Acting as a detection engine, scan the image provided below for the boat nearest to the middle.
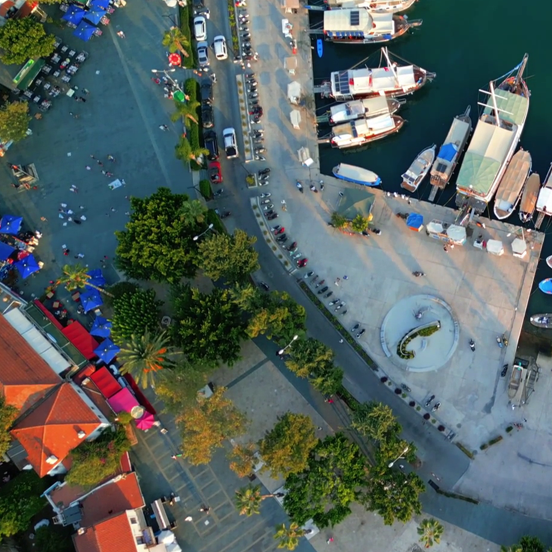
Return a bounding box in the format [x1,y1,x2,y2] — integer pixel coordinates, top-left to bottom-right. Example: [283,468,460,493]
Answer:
[332,161,391,185]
